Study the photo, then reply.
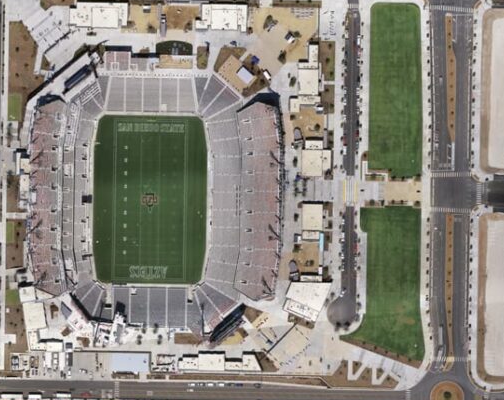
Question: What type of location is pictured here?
sports ground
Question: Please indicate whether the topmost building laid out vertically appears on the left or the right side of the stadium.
on the right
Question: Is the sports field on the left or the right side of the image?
left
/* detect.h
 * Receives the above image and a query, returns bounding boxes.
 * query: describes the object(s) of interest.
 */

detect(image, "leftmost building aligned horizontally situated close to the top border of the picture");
[70,2,128,28]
